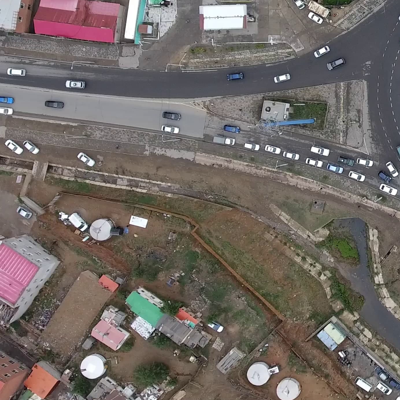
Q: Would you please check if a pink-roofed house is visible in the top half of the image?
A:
Yes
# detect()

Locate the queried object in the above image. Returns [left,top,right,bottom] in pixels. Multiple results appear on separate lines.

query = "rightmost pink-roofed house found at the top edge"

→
[35,0,126,42]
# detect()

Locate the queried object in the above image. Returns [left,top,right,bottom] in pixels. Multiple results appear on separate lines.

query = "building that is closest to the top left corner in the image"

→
[0,0,36,33]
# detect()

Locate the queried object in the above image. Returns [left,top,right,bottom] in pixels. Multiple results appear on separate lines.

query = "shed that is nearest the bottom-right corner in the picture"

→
[318,322,349,351]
